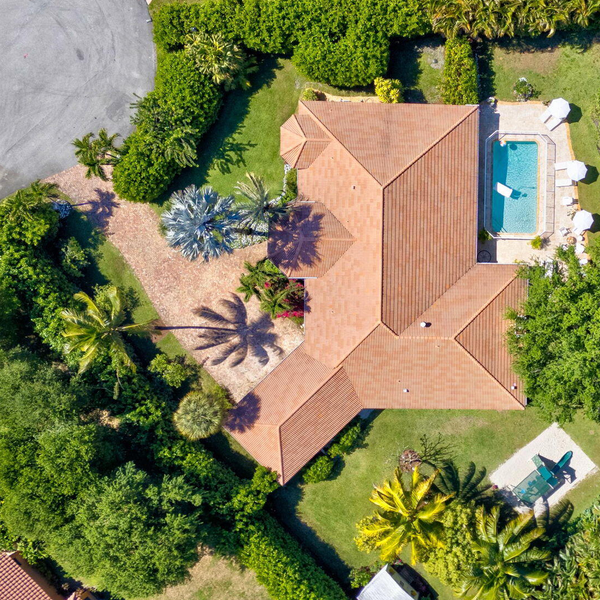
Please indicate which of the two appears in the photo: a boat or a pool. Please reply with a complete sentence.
There is a pool in the scene.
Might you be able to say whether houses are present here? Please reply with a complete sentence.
Yes, a house appears in the view.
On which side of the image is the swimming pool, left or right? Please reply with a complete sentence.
You can find the swimming pool on the right side of the picture.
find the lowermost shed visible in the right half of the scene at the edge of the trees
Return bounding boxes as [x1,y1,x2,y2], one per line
[361,561,422,600]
